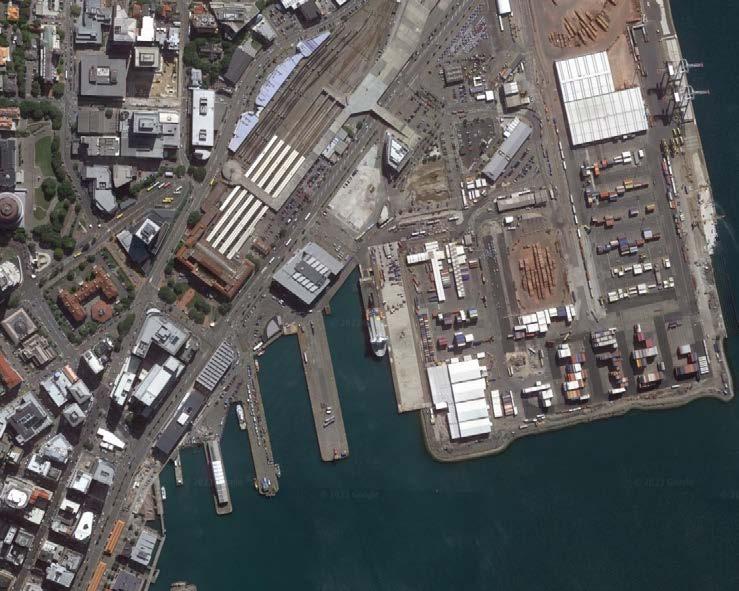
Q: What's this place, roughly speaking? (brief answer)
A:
port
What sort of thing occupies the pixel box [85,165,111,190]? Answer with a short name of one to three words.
building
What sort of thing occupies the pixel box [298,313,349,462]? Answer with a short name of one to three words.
pier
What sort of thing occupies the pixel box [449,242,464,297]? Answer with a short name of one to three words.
building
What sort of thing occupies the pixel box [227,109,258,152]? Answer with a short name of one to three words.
shed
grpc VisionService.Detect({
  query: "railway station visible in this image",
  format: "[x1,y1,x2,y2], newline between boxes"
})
[174,203,254,300]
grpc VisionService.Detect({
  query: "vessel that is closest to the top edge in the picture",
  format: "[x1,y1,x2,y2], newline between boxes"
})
[359,278,386,357]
